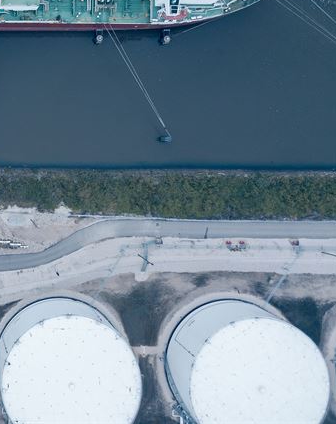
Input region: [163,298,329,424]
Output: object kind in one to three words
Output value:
storage tank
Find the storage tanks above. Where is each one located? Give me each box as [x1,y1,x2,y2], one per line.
[163,298,329,424]
[0,298,143,424]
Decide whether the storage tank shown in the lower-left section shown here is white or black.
white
